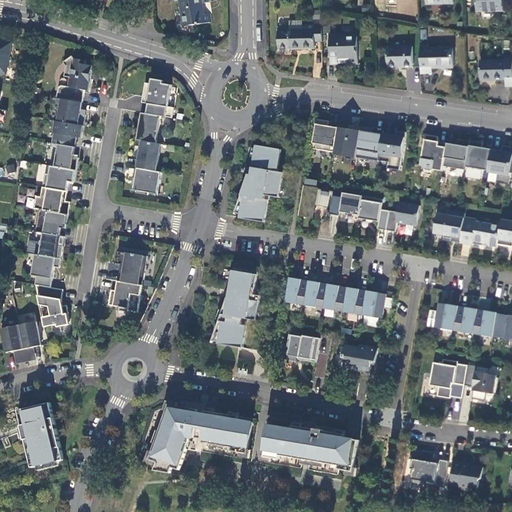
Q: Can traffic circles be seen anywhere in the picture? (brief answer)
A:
Yes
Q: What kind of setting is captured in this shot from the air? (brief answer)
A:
residential area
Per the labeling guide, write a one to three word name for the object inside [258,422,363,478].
building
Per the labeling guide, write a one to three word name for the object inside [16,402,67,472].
building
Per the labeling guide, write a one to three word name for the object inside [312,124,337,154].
house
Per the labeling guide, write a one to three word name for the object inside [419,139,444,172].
house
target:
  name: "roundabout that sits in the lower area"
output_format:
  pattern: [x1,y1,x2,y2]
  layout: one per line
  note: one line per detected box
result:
[108,343,160,395]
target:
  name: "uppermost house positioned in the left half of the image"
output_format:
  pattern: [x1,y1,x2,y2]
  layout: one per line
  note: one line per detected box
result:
[180,0,213,28]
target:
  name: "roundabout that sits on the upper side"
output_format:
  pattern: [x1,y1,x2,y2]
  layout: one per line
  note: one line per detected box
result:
[205,64,267,126]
